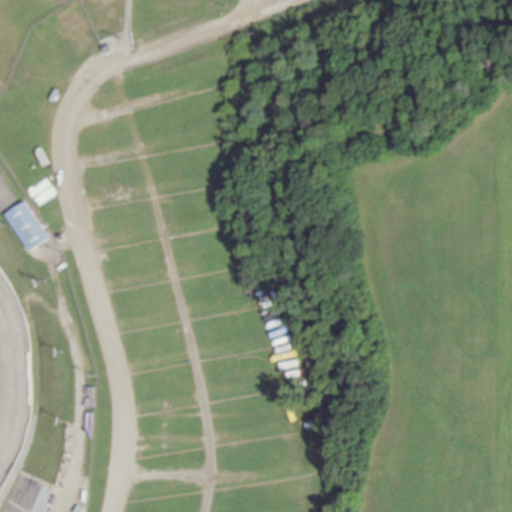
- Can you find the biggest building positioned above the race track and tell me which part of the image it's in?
left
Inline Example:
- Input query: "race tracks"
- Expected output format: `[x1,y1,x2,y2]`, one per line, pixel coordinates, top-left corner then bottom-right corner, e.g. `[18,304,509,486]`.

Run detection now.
[0,263,32,492]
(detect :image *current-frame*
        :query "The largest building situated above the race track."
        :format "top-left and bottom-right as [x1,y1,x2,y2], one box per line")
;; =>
[4,200,49,251]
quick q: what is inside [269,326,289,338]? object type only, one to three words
vehicle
